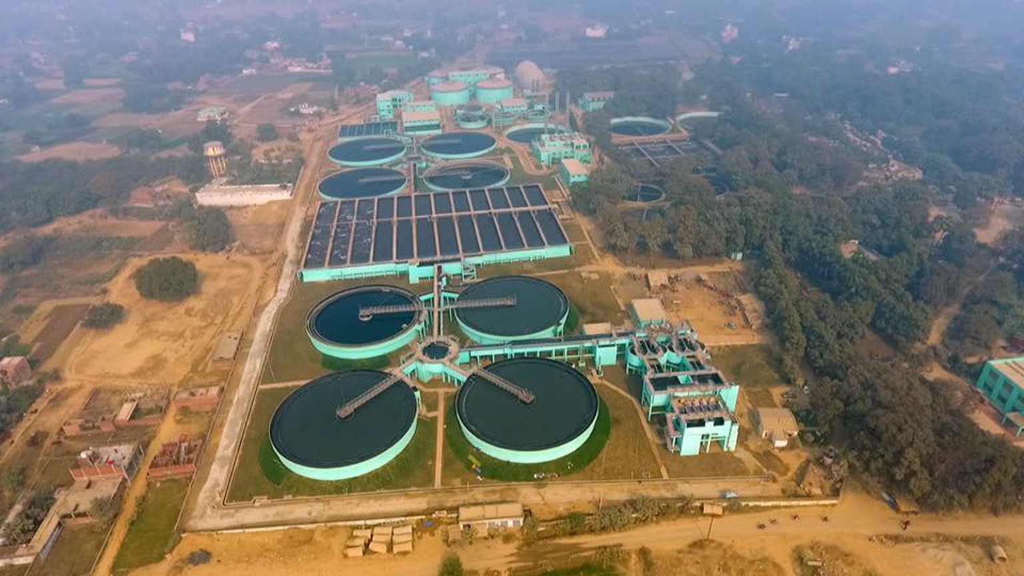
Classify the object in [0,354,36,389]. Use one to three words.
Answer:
house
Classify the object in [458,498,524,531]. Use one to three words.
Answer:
building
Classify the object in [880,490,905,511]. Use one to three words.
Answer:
truck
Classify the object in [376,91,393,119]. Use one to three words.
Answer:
building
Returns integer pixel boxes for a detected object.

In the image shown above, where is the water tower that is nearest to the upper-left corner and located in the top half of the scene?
[203,143,231,181]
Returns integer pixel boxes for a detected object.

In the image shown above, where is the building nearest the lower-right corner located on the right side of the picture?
[974,359,1024,430]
